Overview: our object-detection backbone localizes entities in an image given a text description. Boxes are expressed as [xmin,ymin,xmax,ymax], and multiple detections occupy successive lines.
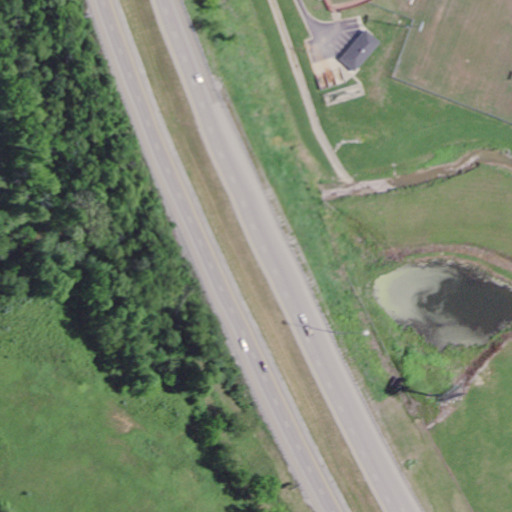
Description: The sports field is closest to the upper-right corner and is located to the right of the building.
[396,0,512,121]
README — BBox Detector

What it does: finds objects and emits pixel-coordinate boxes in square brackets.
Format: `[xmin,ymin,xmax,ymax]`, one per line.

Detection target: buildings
[340,30,380,70]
